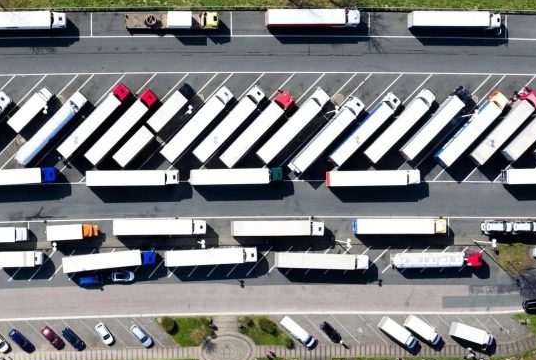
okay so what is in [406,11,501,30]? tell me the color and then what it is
white vehicle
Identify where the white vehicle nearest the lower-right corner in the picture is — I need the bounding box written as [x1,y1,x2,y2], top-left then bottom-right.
[445,320,495,347]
